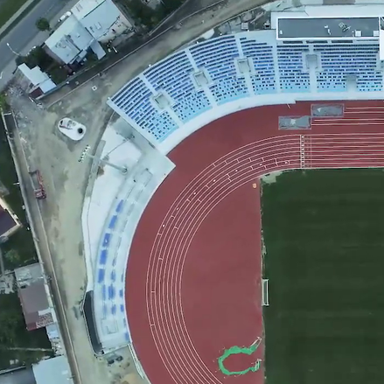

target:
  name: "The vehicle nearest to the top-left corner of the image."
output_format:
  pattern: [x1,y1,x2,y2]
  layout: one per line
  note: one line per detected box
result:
[55,7,73,24]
